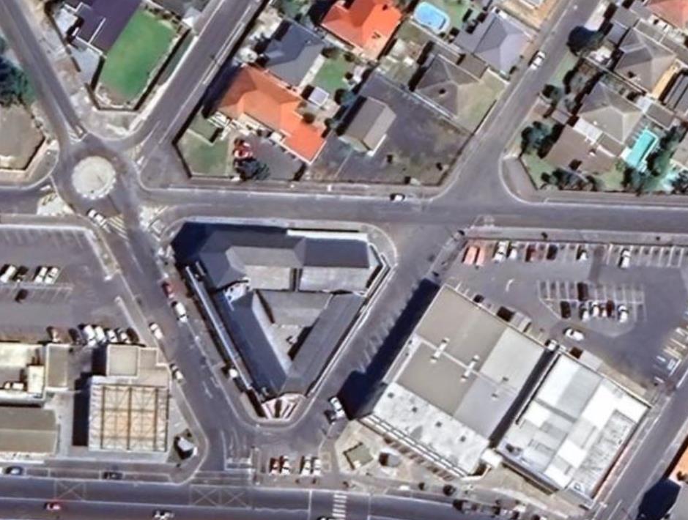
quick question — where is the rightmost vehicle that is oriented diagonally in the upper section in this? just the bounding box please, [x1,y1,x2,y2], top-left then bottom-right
[530,49,548,72]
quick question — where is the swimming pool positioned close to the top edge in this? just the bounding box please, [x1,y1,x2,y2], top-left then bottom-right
[413,1,449,33]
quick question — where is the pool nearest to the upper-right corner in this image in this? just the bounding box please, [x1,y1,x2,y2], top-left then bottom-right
[626,131,658,168]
